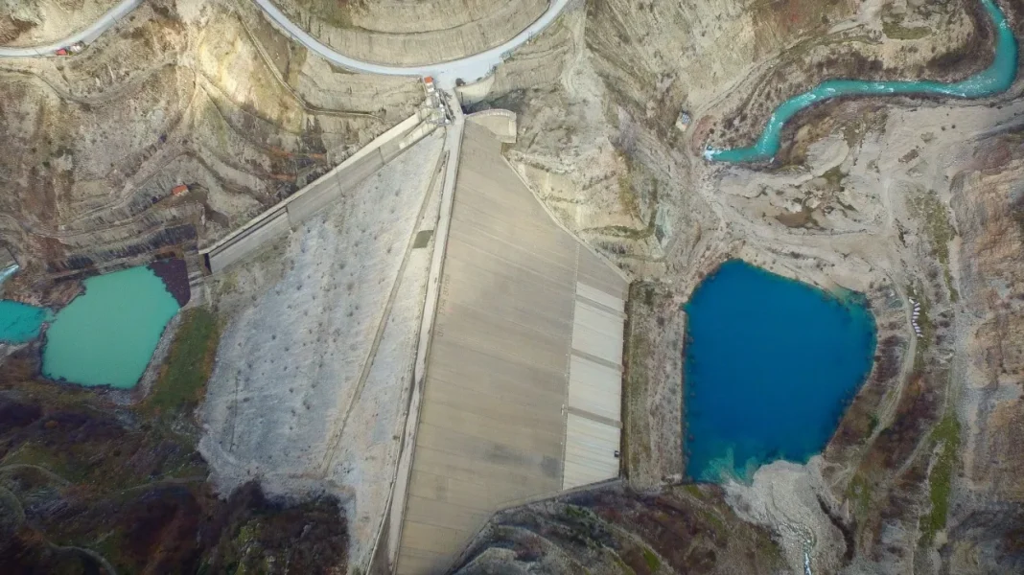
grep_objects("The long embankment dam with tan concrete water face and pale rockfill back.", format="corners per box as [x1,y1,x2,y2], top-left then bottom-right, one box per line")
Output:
[201,107,631,575]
